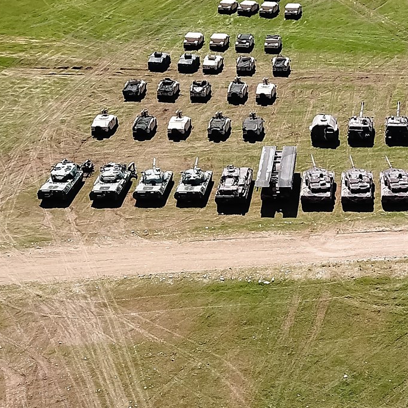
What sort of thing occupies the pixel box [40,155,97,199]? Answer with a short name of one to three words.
vehicle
